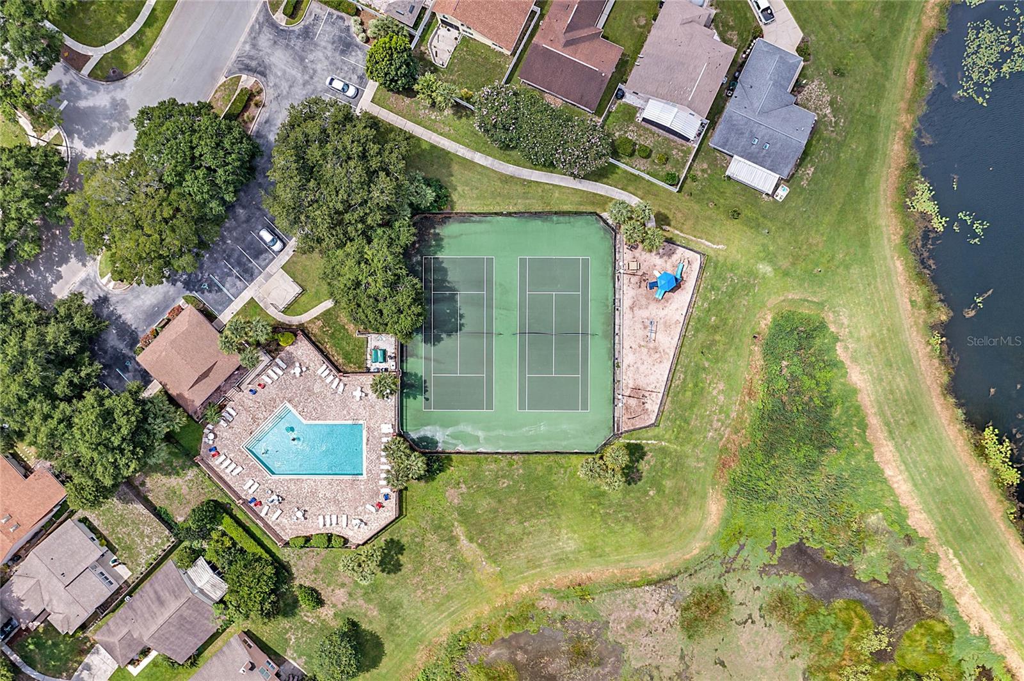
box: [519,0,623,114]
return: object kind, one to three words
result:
house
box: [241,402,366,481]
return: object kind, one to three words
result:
swimming pool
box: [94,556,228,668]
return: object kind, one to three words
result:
house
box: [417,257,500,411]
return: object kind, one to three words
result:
tennis court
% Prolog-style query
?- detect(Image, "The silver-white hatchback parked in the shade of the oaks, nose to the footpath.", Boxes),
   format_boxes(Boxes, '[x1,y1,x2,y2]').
[258,227,284,253]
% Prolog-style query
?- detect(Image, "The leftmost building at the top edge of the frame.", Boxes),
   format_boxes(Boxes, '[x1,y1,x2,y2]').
[384,0,430,29]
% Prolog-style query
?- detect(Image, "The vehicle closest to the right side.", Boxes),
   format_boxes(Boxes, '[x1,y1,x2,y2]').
[750,0,775,25]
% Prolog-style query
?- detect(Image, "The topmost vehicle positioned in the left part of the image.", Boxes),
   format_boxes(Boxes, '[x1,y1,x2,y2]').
[327,76,358,99]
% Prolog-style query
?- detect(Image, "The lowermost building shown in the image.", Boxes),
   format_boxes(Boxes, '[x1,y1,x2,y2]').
[189,631,278,681]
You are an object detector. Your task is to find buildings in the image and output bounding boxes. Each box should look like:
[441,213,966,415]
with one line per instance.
[708,39,816,194]
[189,631,278,681]
[384,0,430,29]
[432,0,537,57]
[94,556,228,668]
[0,518,126,634]
[519,0,623,114]
[0,450,70,561]
[625,0,736,142]
[137,306,242,415]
